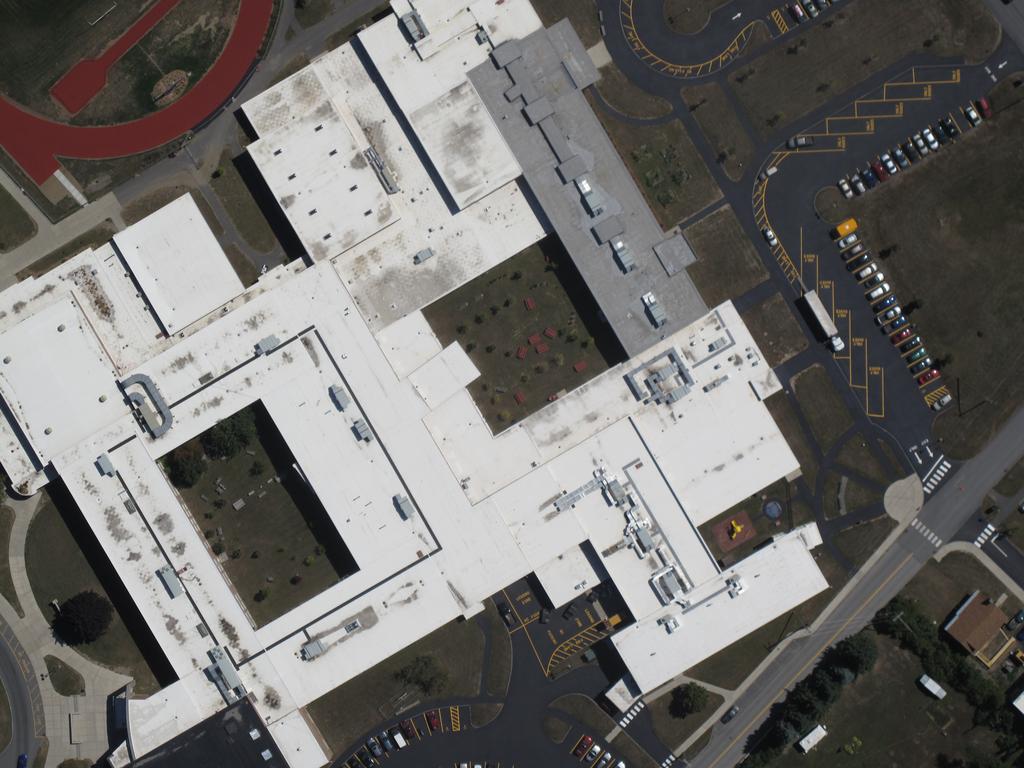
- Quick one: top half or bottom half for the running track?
top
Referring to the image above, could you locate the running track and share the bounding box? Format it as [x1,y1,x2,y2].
[0,0,275,205]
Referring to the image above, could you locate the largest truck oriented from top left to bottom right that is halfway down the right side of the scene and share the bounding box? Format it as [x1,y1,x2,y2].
[803,290,845,353]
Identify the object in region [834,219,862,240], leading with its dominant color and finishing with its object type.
orange vehicle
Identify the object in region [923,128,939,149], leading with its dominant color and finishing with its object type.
white car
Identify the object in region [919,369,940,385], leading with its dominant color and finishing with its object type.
red car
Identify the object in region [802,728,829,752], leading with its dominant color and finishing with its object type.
white camper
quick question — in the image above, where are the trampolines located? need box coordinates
[763,500,780,518]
